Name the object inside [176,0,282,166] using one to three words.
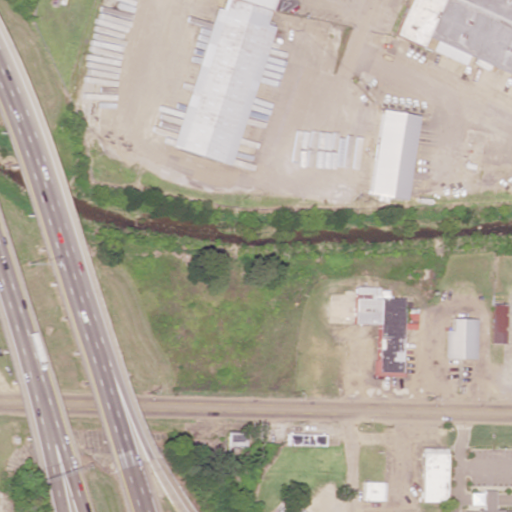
building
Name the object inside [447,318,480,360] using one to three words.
building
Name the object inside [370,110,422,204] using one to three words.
shed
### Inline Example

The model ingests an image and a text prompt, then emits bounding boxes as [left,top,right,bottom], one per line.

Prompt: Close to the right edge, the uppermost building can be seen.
[398,0,512,75]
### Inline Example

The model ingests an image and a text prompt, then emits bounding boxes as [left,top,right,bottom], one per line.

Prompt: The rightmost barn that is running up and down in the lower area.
[493,306,508,344]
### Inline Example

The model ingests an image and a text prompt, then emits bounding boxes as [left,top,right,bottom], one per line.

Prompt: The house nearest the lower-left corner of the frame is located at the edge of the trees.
[226,432,250,452]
